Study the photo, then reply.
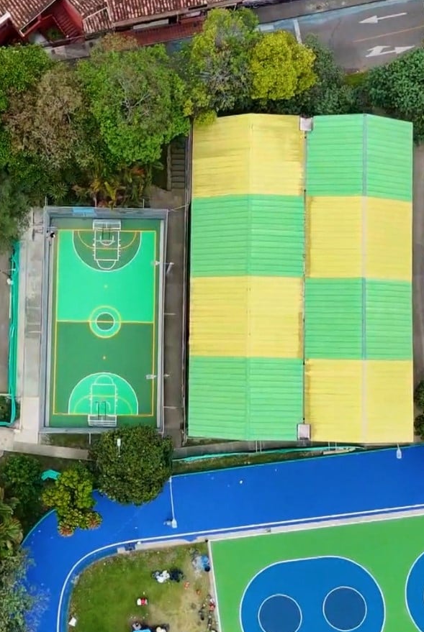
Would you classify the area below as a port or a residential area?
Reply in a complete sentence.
The area seen from above is a residential area.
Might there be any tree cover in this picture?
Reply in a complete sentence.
Yes, some tree cover is visible.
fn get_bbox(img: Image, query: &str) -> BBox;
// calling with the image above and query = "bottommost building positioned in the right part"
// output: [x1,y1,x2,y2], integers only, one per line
[184,113,413,443]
